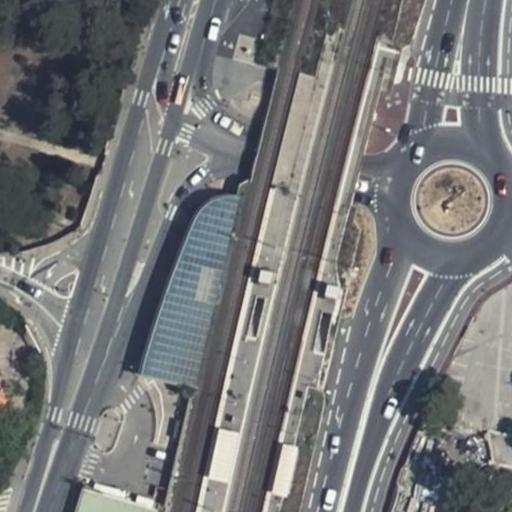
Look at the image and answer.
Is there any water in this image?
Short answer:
No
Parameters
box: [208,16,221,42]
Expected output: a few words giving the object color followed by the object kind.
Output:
white vehicle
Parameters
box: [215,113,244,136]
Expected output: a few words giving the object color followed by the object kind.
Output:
white truck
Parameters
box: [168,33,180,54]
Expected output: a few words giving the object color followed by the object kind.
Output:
white vehicle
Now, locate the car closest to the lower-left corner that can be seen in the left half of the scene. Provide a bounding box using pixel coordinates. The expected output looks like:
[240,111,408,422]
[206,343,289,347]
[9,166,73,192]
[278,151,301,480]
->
[16,279,39,297]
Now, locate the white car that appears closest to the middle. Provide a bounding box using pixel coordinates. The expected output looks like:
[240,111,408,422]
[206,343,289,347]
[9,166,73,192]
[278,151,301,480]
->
[188,168,206,186]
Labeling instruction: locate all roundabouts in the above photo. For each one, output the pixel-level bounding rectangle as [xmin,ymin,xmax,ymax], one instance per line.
[379,127,512,273]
